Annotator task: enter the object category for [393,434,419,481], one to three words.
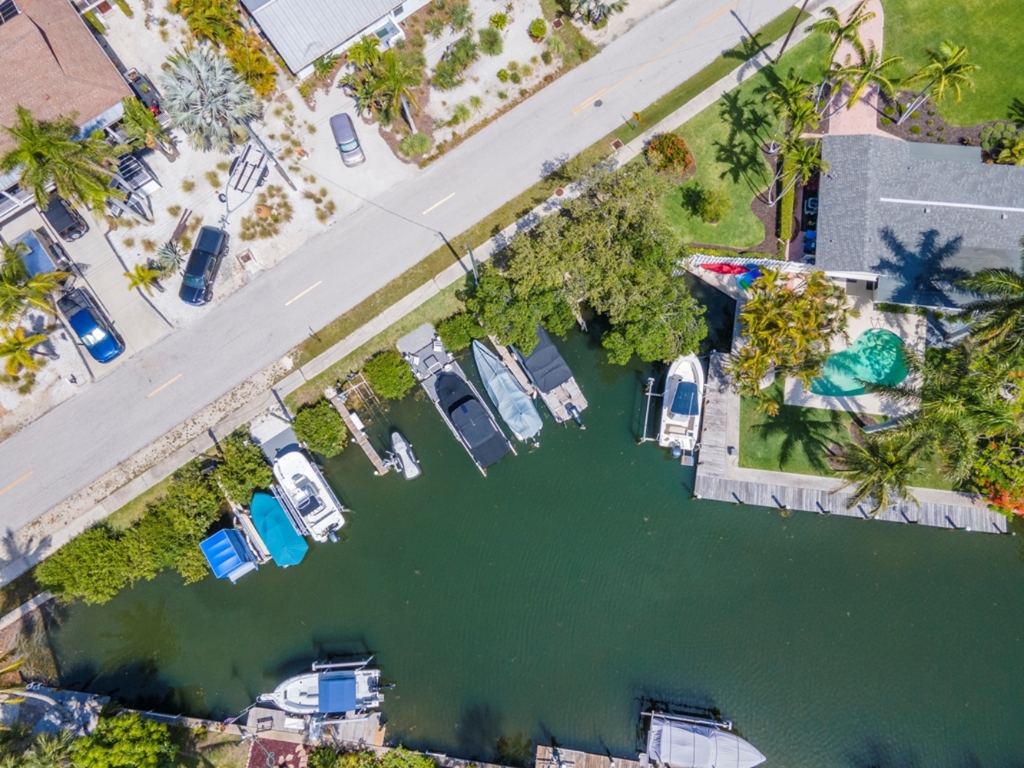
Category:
boat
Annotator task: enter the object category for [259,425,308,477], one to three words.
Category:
pier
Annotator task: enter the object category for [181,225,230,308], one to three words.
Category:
truck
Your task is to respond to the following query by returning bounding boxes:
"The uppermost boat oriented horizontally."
[699,262,752,276]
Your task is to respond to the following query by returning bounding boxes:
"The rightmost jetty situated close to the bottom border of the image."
[535,743,640,768]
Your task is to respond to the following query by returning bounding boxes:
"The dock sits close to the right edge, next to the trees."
[693,352,1008,533]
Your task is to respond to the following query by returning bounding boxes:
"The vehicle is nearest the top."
[327,110,366,171]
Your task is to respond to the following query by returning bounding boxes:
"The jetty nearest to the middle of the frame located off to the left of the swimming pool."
[487,333,537,397]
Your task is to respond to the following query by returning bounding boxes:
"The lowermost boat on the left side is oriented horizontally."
[256,667,394,717]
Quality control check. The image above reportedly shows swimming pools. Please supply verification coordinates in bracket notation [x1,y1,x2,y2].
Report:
[784,271,928,415]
